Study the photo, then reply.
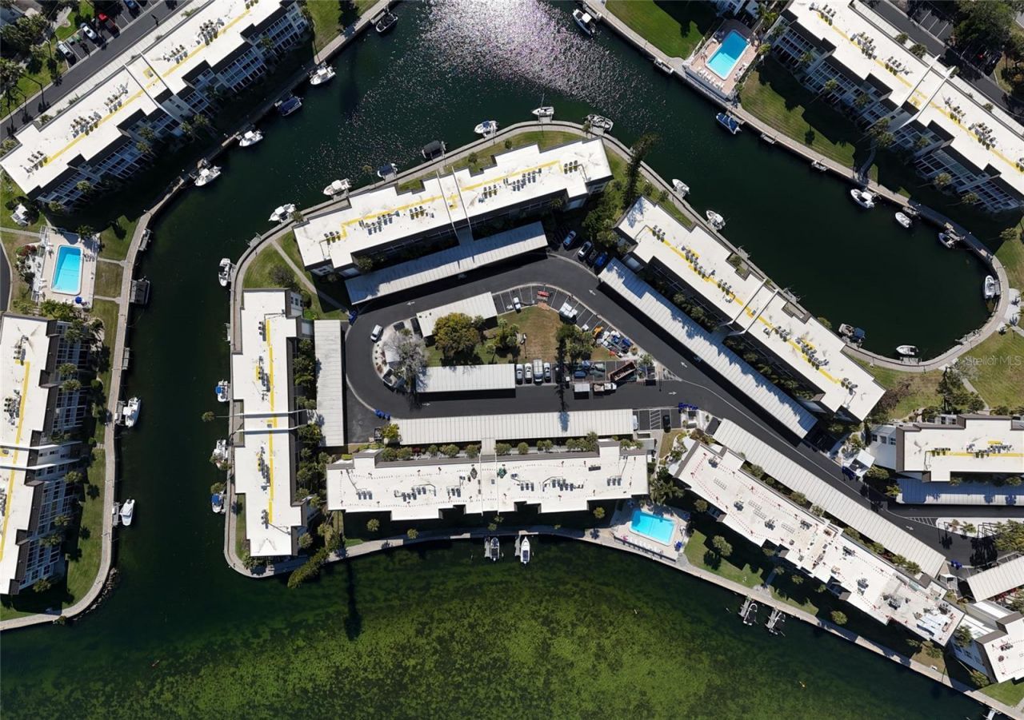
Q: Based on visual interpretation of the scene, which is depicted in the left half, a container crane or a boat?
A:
boat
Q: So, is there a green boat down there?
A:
No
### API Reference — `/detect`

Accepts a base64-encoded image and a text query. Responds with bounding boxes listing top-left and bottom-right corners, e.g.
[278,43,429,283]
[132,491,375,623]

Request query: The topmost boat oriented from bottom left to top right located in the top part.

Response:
[378,13,400,32]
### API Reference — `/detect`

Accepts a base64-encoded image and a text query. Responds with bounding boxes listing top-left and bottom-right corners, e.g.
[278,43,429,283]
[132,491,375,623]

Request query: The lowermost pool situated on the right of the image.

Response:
[609,498,687,560]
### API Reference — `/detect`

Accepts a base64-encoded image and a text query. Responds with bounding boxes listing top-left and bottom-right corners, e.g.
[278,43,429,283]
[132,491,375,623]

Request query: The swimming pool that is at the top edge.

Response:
[691,19,757,94]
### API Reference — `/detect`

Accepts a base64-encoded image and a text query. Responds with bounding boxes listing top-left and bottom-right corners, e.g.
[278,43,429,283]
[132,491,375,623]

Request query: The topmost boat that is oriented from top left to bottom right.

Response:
[574,10,596,37]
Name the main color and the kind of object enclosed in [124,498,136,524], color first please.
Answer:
white boat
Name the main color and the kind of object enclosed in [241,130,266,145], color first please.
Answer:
white boat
